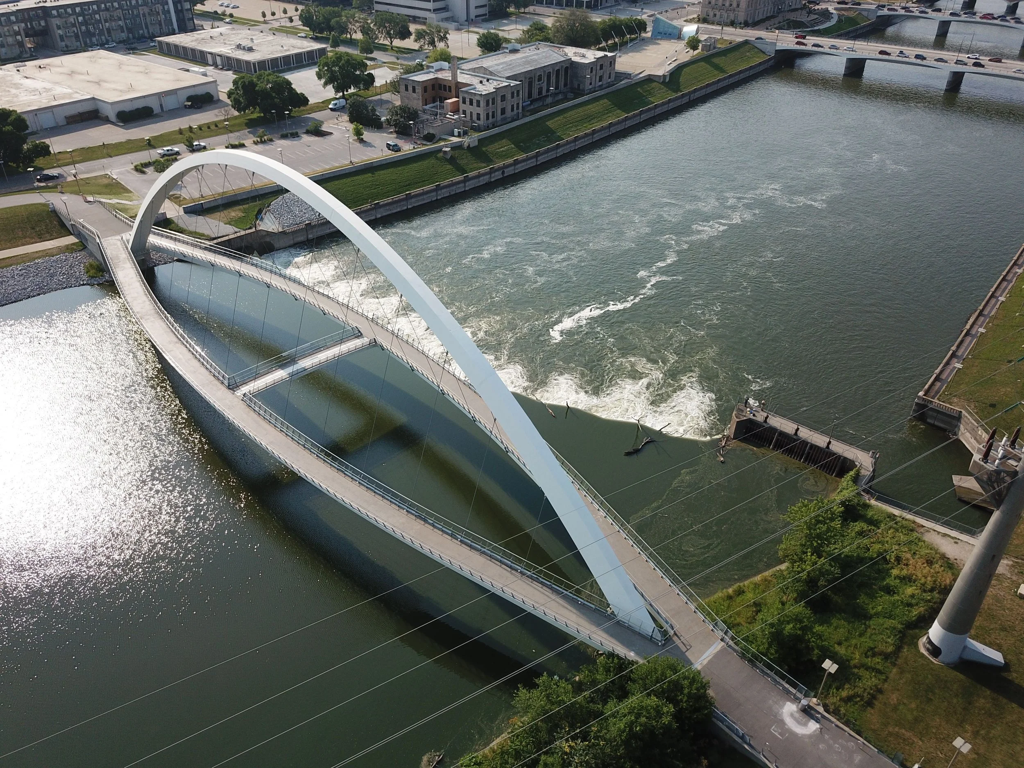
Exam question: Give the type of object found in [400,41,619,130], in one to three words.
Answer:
building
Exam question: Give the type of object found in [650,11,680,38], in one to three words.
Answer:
building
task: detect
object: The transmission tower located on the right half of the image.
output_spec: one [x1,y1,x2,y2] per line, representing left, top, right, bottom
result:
[910,436,1024,684]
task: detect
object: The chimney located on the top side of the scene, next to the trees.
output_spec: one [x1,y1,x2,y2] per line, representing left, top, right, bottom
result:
[445,57,458,97]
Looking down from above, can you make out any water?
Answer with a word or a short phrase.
Yes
